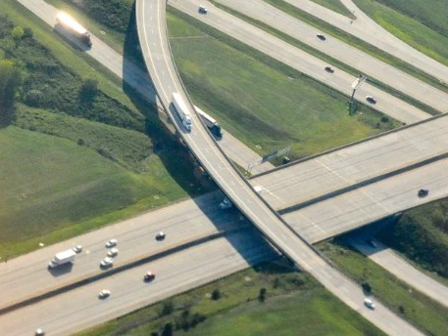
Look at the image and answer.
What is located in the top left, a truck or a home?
truck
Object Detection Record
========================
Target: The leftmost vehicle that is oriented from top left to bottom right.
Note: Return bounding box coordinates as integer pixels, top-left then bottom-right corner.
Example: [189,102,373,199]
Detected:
[54,12,92,47]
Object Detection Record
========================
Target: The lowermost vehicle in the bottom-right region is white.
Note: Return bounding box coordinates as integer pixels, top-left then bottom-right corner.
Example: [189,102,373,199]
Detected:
[361,295,377,308]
